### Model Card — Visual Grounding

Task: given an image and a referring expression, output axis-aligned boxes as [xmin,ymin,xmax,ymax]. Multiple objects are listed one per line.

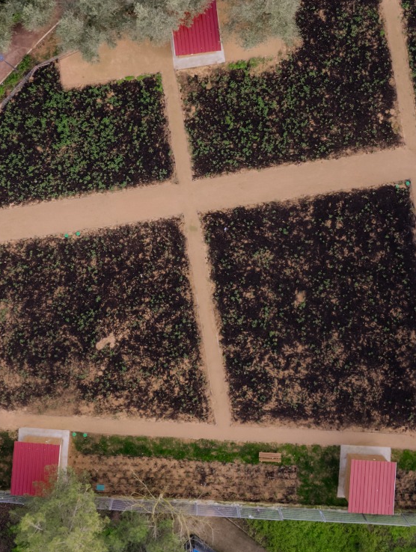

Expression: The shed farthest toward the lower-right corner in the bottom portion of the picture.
[340,448,399,522]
